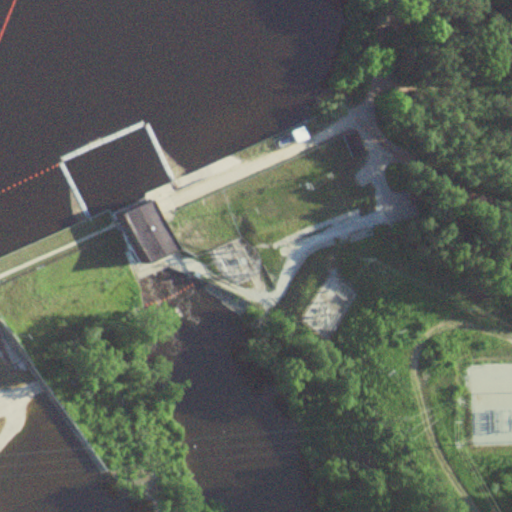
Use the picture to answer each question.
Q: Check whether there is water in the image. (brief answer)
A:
Yes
